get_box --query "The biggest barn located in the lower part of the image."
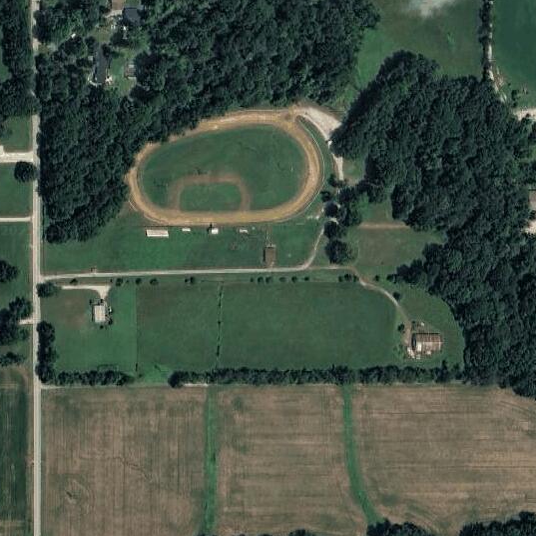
[412,334,441,353]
